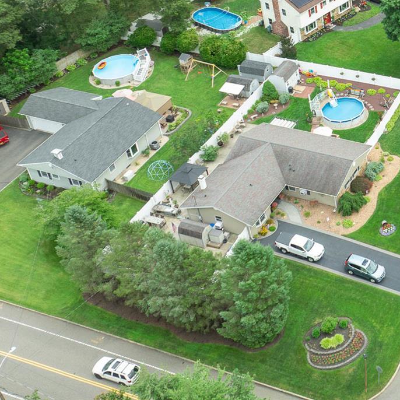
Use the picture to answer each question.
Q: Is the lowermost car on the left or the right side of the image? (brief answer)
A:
left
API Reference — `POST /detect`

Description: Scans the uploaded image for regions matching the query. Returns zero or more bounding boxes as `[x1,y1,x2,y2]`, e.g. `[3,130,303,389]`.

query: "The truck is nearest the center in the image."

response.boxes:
[272,231,327,260]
